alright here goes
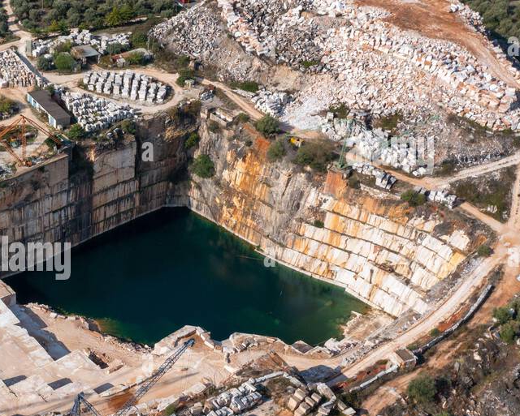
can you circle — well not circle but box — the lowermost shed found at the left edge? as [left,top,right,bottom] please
[23,93,76,128]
